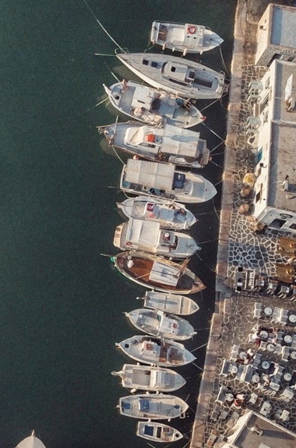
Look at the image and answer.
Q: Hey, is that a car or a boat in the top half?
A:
boat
